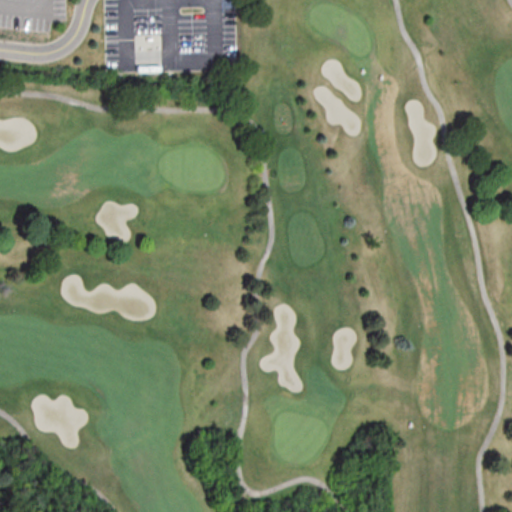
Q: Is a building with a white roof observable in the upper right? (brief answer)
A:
No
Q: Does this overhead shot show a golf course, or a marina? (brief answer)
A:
golf course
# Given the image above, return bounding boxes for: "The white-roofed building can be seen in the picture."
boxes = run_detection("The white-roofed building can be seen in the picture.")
[134,35,163,74]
